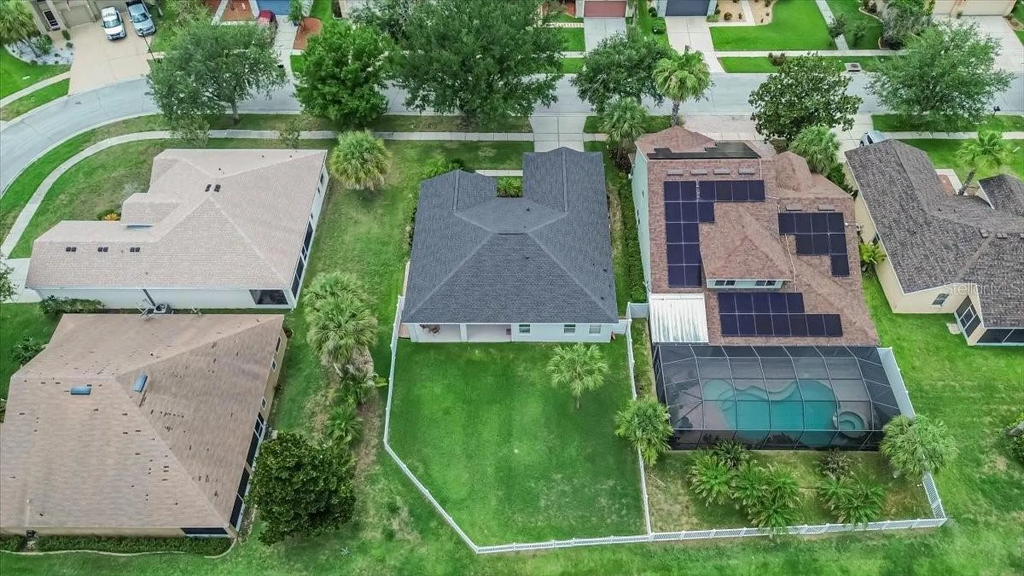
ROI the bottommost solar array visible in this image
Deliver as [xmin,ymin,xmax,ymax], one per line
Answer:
[719,292,845,336]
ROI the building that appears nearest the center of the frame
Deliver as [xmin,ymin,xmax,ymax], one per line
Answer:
[396,144,619,343]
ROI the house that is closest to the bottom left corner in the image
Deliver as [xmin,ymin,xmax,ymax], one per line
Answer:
[0,314,283,536]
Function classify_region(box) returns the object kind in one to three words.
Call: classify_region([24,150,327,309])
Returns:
house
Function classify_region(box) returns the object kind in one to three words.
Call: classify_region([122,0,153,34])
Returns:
truck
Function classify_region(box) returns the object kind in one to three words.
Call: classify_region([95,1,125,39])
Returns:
car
